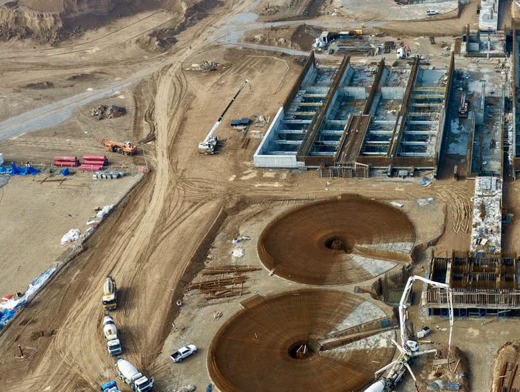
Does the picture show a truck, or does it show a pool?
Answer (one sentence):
Looking from above, you can make out a truck.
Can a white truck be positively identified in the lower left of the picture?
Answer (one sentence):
Yes, a white truck appears in the lower left of the picture.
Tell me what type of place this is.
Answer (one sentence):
The area seen from above is an industrial area.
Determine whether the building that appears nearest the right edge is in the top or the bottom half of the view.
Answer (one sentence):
The building that appears nearest the right edge is in the bottom half of the image.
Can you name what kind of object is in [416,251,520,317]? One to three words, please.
building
